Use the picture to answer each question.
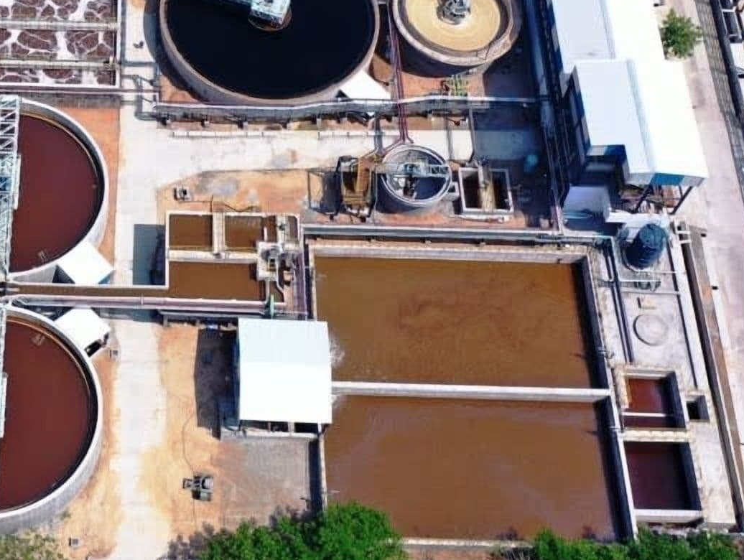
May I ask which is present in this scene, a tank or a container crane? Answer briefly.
tank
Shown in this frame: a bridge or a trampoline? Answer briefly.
bridge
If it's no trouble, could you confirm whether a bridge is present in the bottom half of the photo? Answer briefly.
No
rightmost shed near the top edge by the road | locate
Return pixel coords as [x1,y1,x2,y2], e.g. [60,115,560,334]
[529,0,707,222]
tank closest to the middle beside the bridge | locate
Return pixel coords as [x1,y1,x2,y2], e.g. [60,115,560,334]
[374,145,462,221]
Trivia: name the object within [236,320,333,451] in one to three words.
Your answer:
shed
